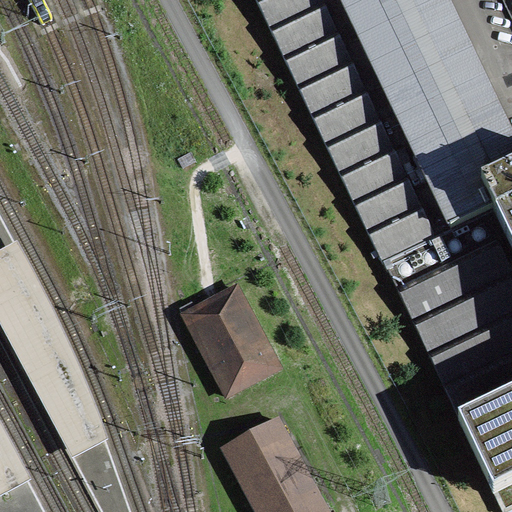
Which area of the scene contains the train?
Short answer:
top left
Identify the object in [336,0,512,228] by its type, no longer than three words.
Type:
building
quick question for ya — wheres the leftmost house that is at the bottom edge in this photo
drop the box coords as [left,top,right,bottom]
[220,416,332,512]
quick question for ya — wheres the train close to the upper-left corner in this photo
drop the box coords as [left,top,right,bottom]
[30,0,54,26]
